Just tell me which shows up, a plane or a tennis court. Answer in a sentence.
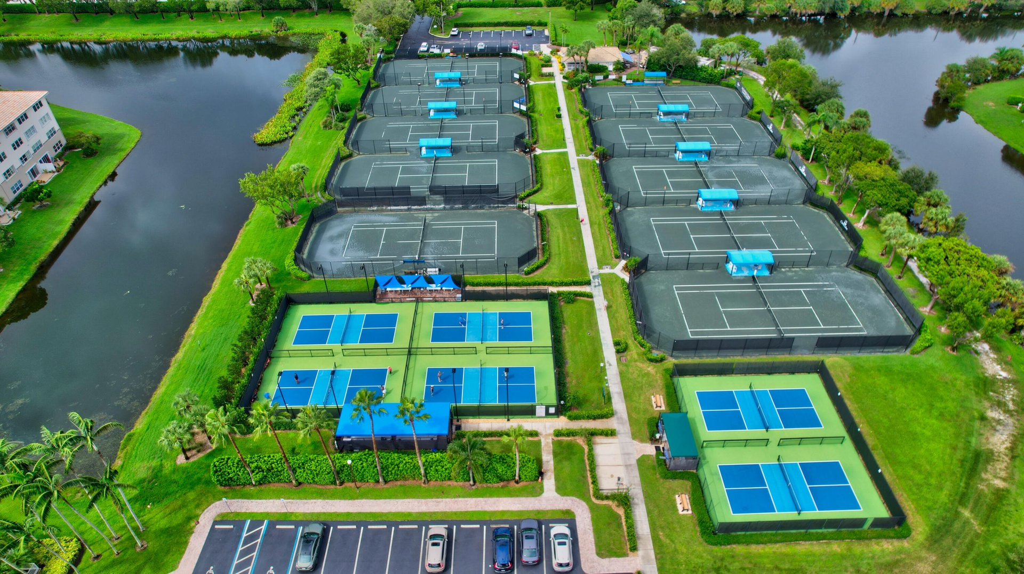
This aerial view contains a tennis court.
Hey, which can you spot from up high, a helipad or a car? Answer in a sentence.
Looking from above, you can make out a car.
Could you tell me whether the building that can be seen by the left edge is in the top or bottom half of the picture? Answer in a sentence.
The top half of the photo is where the building that can be seen by the left edge is.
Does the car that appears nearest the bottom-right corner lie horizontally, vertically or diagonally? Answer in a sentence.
Seen from above, the car that appears nearest the bottom-right corner lies vertically.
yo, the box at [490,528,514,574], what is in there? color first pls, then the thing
blue car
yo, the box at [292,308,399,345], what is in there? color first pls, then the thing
blue sports court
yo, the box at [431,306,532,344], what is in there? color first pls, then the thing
blue sports court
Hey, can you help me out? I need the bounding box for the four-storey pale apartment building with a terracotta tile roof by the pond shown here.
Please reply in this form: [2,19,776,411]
[0,90,66,219]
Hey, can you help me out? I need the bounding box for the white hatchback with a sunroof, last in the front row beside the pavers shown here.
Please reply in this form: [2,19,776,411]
[550,528,573,573]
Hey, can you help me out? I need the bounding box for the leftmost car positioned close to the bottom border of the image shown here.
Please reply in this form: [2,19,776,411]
[293,524,321,571]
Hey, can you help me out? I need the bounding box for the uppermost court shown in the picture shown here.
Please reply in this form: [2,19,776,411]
[376,57,527,84]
